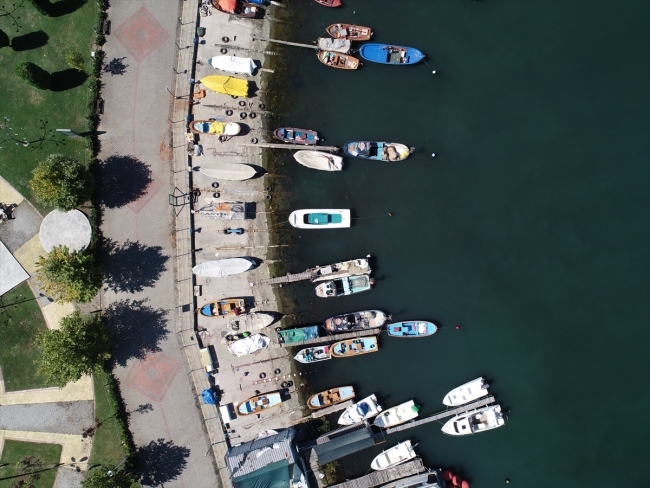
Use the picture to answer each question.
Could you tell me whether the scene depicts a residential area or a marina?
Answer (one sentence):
The picture captures a marina.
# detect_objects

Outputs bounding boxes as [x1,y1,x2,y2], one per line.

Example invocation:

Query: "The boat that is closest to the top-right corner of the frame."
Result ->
[359,43,425,66]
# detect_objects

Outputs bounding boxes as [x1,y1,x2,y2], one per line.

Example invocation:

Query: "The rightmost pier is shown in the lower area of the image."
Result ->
[385,394,496,435]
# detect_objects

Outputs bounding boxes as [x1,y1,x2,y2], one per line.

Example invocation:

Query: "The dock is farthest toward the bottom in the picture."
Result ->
[317,457,423,488]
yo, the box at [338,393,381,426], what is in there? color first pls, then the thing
white boat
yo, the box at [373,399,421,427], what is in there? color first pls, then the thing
white boat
